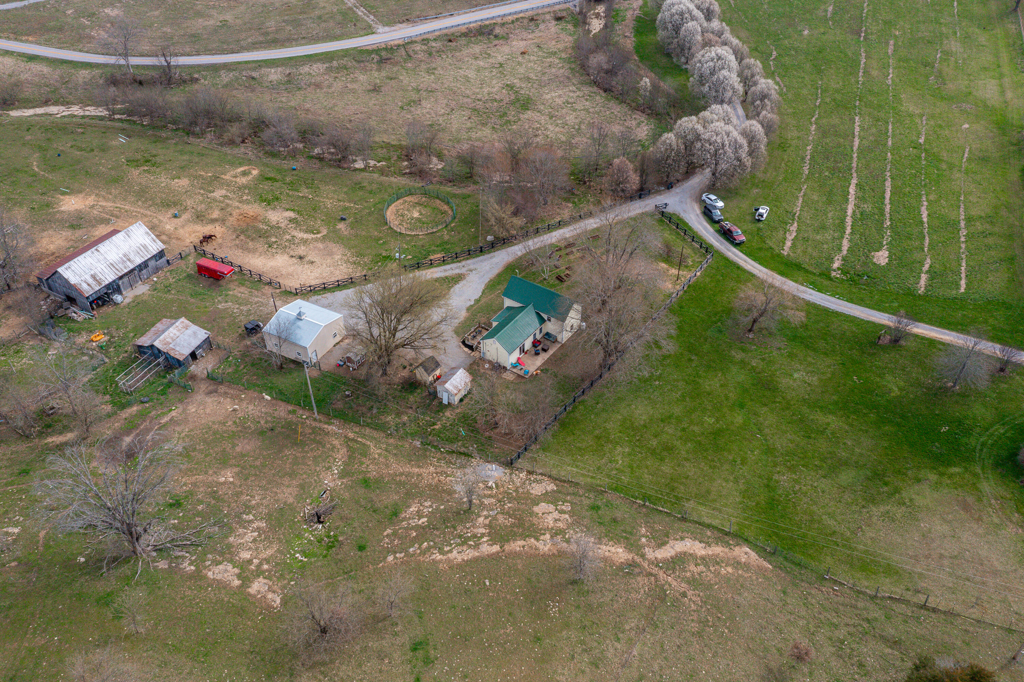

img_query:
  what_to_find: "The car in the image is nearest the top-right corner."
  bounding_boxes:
[752,205,770,220]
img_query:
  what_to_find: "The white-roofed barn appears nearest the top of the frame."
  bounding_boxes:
[33,221,169,313]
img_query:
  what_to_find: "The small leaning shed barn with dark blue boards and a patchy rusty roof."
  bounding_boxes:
[132,317,212,370]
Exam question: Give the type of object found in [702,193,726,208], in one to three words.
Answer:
car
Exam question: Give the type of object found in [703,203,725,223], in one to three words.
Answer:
car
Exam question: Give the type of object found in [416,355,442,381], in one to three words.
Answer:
shed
